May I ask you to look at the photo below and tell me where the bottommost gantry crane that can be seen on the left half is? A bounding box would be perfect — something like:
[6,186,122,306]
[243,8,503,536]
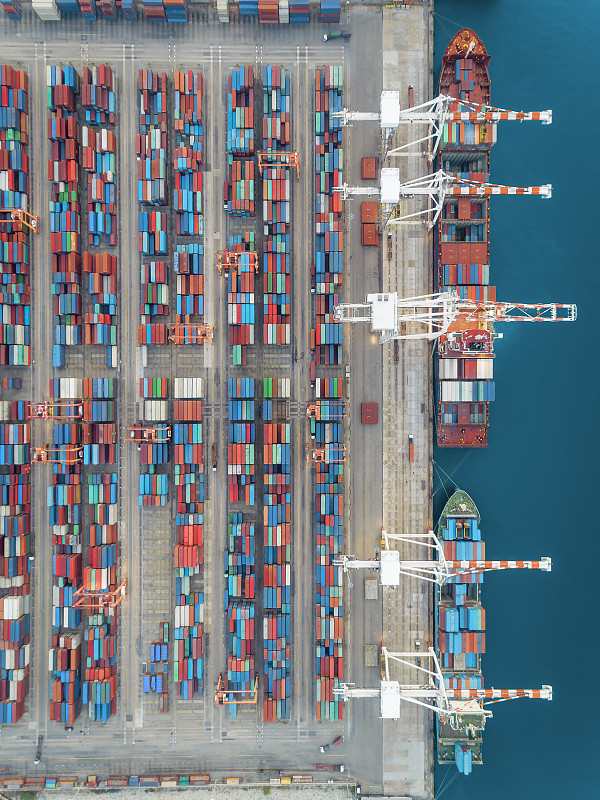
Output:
[214,664,259,697]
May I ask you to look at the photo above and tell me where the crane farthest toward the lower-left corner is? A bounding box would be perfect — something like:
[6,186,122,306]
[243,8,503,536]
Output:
[72,579,130,607]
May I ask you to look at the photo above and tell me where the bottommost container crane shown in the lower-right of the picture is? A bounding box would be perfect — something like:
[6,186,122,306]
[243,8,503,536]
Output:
[332,638,557,716]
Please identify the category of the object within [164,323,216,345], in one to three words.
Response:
container crane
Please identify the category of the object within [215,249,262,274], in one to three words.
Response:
container crane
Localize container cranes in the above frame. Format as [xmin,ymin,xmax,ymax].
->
[30,401,85,421]
[72,579,130,607]
[30,443,86,465]
[332,523,557,585]
[332,638,557,716]
[0,209,40,236]
[123,423,175,444]
[305,442,349,464]
[256,152,302,182]
[164,323,216,345]
[215,249,262,274]
[332,168,557,235]
[214,664,259,697]
[332,92,557,170]
[304,400,349,420]
[330,293,577,351]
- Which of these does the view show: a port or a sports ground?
port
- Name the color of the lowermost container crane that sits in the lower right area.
white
